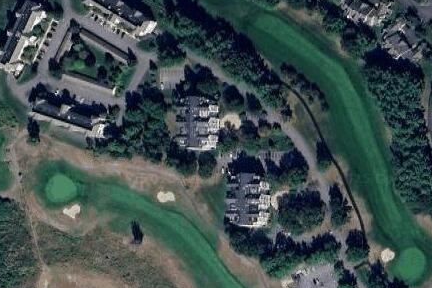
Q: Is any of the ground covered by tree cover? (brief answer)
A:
Yes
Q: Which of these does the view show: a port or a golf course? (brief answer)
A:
golf course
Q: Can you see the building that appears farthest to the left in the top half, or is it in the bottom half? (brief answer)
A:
top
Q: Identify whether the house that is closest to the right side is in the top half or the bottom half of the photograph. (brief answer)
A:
top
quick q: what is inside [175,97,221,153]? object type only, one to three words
building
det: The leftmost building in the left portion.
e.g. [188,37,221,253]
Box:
[0,5,48,80]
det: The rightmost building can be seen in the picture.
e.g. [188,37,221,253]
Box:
[382,20,429,66]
